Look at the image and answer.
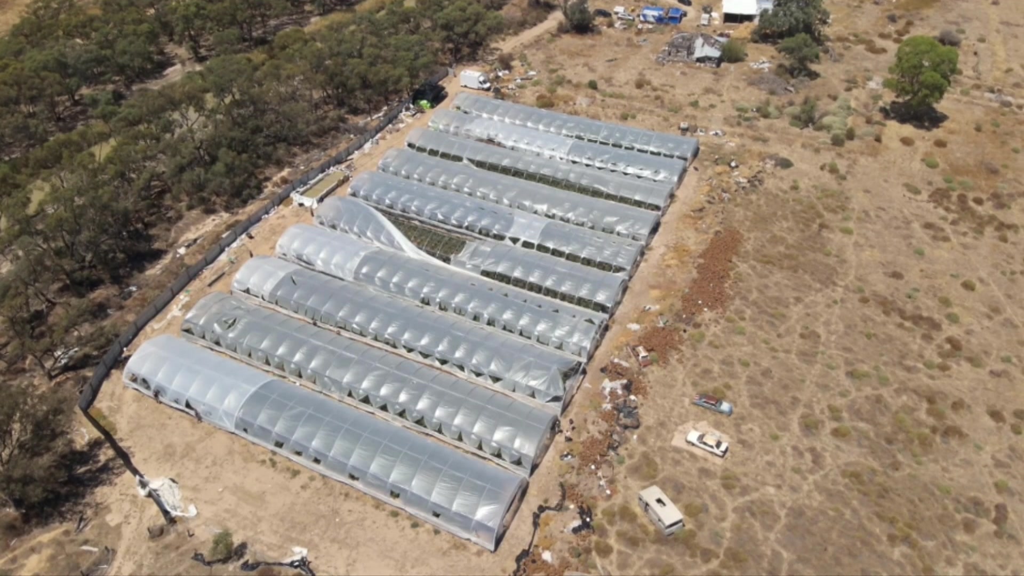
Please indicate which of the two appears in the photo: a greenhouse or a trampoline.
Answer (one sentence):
This aerial view contains a greenhouse.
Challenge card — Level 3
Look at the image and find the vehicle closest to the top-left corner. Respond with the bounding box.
[461,69,494,91]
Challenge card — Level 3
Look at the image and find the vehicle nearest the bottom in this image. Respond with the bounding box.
[638,485,682,536]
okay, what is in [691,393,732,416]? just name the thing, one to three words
car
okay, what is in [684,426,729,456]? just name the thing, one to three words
car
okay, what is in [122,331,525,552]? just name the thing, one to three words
greenhouse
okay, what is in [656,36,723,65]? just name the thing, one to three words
house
